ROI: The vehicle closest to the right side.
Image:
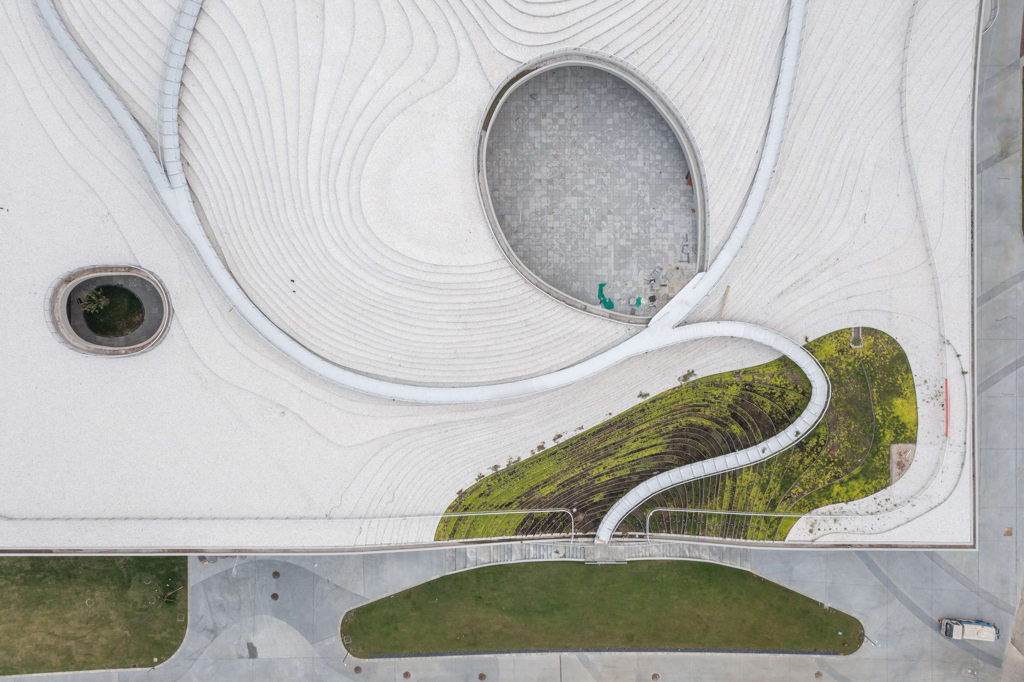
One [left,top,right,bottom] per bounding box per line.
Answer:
[937,614,999,640]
